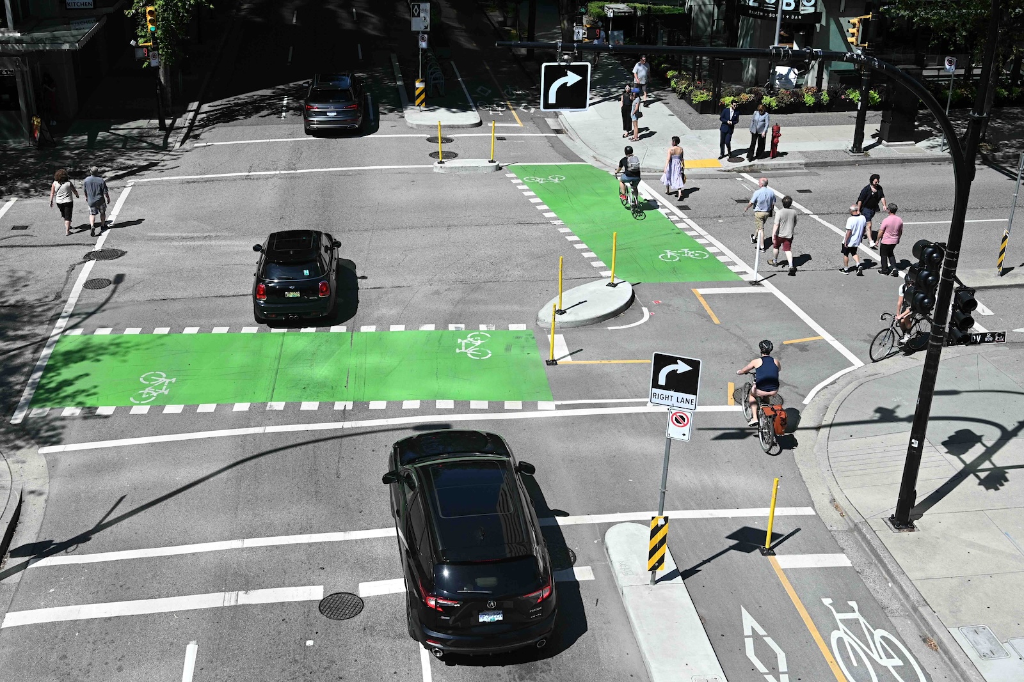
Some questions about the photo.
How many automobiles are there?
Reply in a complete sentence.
The picture shows 3 automobiles.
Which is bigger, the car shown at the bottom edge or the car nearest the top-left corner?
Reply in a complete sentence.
It is the car shown at the bottom edge that is larger, not the car nearest the top-left corner.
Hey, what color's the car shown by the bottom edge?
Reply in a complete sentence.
The car shown by the bottom edge looks black in the image.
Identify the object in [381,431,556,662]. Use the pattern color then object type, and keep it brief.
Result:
black car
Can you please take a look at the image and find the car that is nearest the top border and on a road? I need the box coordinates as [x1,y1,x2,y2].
[300,70,368,134]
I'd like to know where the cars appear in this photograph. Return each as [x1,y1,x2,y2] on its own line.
[300,70,368,134]
[381,431,556,662]
[250,229,344,322]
